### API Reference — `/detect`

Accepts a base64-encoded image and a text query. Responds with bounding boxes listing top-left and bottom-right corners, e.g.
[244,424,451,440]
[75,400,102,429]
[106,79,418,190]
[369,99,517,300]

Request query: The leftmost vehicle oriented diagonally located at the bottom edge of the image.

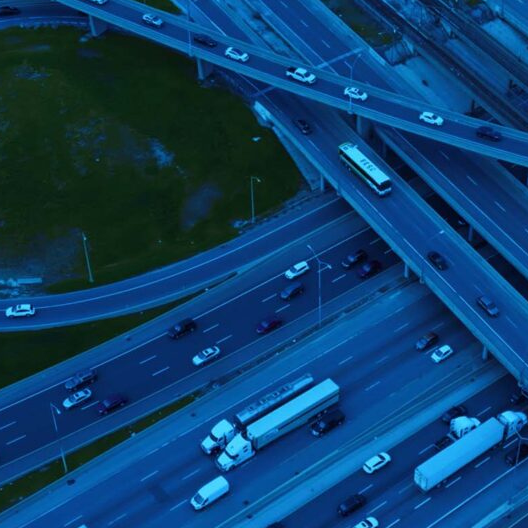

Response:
[190,472,232,508]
